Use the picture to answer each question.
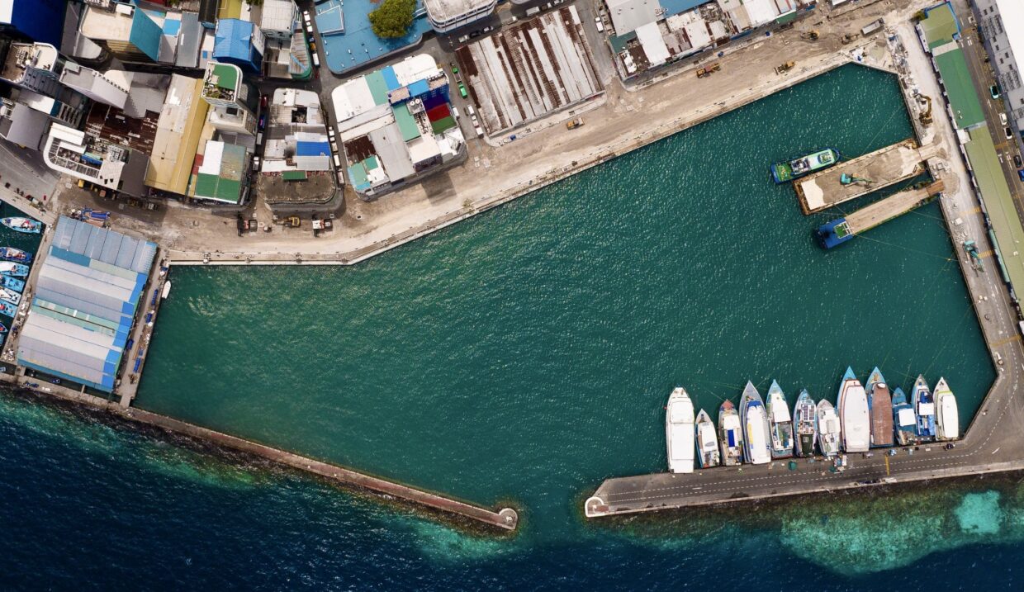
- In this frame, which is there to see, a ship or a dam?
ship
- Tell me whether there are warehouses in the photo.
Yes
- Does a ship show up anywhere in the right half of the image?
Yes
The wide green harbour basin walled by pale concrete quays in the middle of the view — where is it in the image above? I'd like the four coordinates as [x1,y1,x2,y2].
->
[128,50,1001,440]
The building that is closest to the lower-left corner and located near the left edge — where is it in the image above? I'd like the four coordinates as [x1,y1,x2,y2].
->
[15,216,160,396]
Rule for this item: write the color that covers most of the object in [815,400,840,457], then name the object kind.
white boat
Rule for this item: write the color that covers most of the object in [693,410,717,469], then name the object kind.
white boat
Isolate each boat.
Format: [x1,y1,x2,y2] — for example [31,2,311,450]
[664,383,695,474]
[0,216,45,235]
[931,377,961,441]
[0,262,31,278]
[0,298,17,316]
[867,367,897,448]
[736,380,771,465]
[163,281,172,299]
[716,400,742,467]
[0,274,25,291]
[0,321,10,331]
[765,379,793,460]
[0,335,7,345]
[835,367,876,454]
[910,374,939,440]
[0,286,21,304]
[0,247,35,264]
[893,387,916,446]
[693,410,717,469]
[769,148,842,184]
[792,389,817,457]
[815,400,840,457]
